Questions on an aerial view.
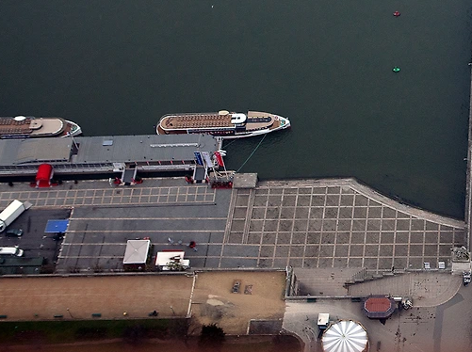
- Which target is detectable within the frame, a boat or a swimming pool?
boat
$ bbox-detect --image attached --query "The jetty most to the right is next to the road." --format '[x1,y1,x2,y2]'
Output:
[232,173,258,190]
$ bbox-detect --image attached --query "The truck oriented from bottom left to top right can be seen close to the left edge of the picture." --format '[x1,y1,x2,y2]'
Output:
[0,192,26,233]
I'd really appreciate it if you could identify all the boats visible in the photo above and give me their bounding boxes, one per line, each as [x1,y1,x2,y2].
[0,111,84,139]
[155,107,292,141]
